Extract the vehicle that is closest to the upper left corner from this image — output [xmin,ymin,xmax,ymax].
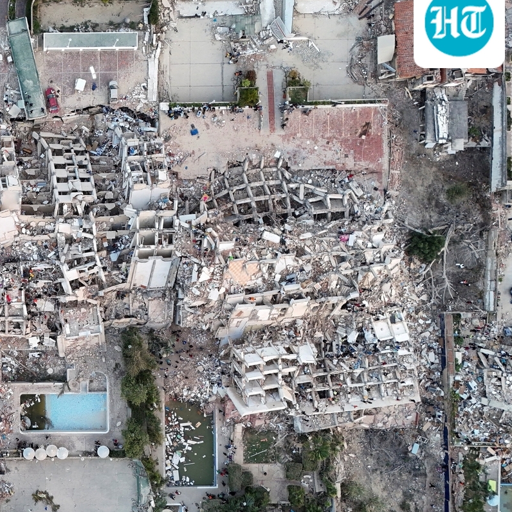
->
[44,85,58,112]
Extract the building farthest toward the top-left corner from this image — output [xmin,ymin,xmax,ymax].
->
[41,31,138,57]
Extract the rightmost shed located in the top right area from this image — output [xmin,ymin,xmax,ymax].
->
[484,83,506,193]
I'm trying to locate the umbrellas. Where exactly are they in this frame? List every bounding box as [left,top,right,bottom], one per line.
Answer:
[96,445,109,458]
[45,445,57,457]
[34,448,46,460]
[23,447,34,459]
[56,447,68,460]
